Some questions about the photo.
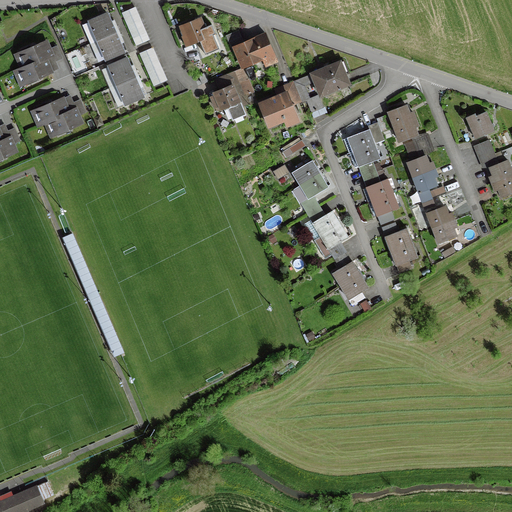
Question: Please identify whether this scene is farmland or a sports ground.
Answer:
sports ground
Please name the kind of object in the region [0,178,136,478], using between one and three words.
soccer field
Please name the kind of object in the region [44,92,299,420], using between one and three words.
soccer field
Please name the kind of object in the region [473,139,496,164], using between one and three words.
building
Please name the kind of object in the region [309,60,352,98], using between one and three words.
house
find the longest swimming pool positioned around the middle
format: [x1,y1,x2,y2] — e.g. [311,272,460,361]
[266,215,282,230]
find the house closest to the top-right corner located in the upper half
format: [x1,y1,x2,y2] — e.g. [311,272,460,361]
[466,109,494,139]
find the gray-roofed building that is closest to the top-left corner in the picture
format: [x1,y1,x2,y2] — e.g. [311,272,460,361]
[14,40,62,86]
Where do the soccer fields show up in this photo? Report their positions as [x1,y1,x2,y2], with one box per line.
[44,92,299,420]
[0,178,136,478]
